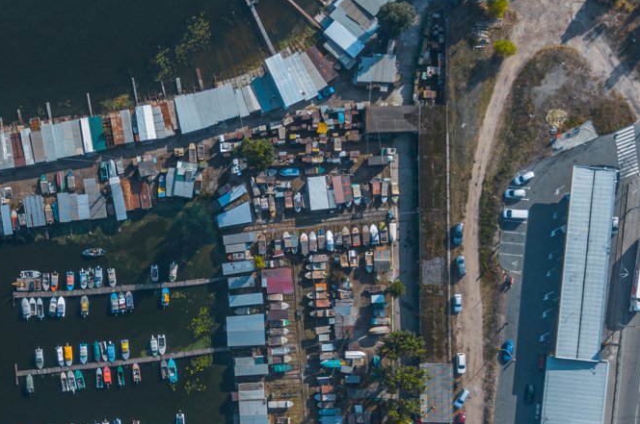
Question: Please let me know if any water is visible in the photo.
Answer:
Yes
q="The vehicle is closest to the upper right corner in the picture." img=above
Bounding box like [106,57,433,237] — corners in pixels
[514,170,534,185]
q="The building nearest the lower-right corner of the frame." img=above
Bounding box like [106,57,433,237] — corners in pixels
[536,355,608,424]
